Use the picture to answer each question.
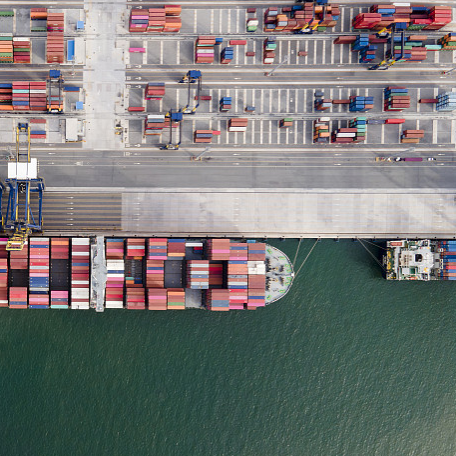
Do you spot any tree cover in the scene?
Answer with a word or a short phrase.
No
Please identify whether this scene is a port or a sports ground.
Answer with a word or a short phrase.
port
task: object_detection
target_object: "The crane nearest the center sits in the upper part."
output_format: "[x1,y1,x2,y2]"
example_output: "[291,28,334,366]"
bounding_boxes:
[160,108,183,150]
